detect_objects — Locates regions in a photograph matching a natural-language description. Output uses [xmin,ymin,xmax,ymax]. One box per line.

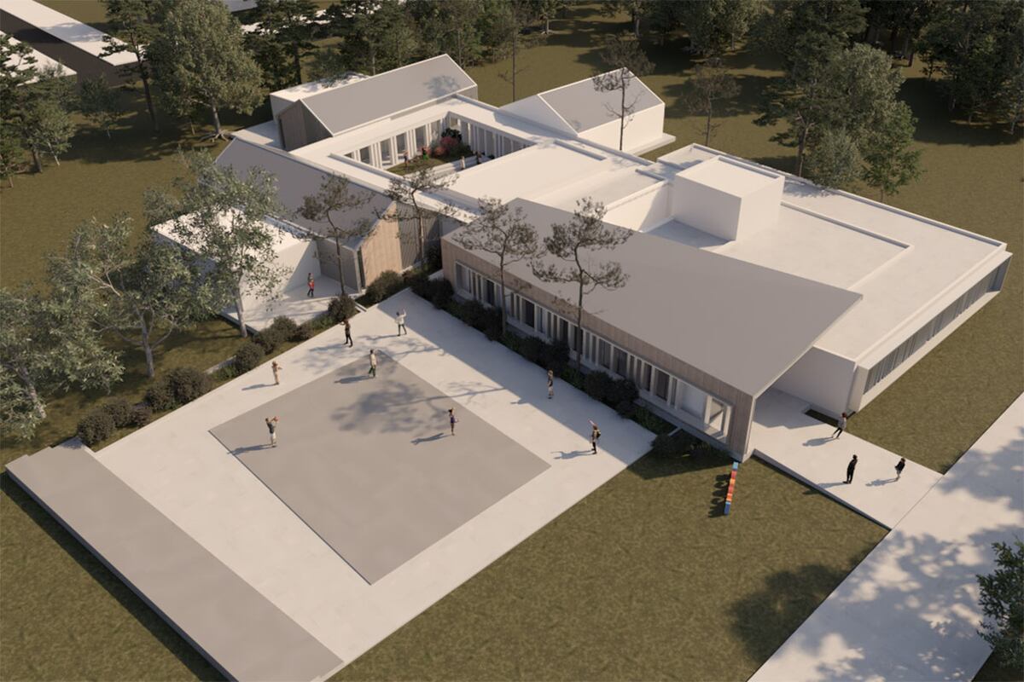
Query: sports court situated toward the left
[209,348,551,583]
